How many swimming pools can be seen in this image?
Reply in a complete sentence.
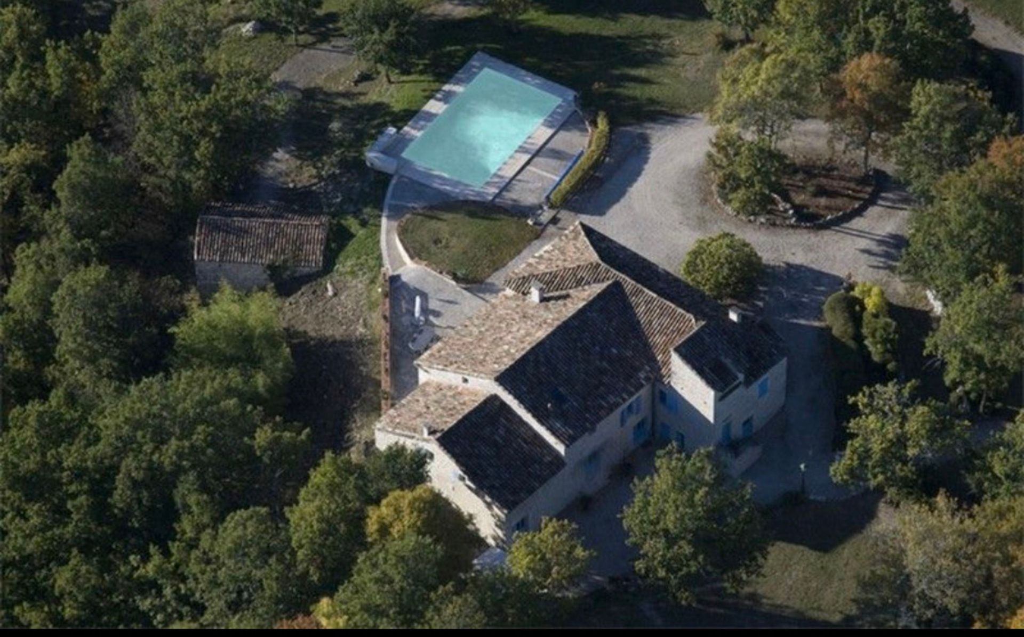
I count just 1 swimming pool.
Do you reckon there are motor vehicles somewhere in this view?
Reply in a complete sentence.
No, this view has no motor vehicle in it.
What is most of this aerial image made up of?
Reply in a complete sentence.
Most of the picture is covered by trees.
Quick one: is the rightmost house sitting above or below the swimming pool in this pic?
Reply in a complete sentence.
The rightmost house is found below the swimming pool in the photo.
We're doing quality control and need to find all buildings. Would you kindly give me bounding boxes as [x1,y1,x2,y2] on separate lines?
[193,199,332,291]
[369,221,788,547]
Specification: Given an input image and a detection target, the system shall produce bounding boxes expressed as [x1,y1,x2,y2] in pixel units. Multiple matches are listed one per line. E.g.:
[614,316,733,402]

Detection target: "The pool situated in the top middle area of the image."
[370,51,580,204]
